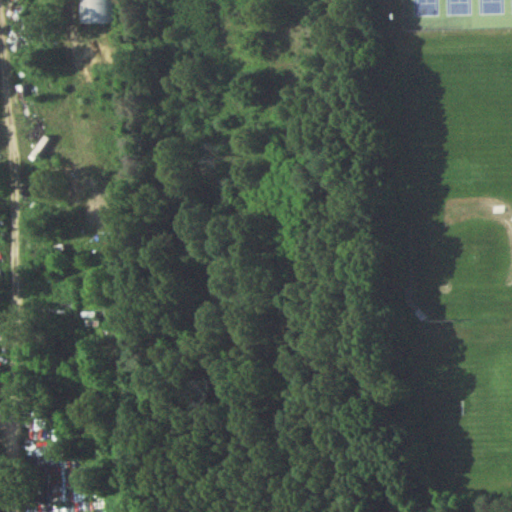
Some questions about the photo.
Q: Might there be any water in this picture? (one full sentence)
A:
No, water can't be seen anywhere here.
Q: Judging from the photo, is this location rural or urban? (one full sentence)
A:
It looks rural.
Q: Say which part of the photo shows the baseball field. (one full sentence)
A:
The baseball field appears toward the right of the photo.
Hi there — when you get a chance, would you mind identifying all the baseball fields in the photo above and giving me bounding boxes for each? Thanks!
[436,196,512,293]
